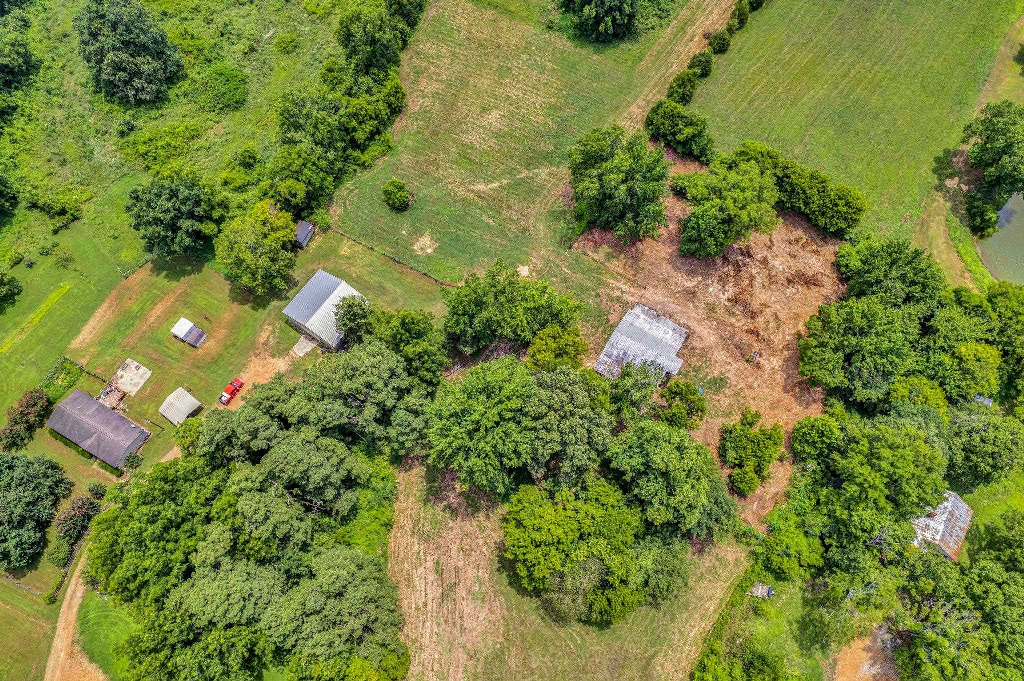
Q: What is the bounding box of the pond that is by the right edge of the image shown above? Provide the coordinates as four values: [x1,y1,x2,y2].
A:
[975,194,1024,292]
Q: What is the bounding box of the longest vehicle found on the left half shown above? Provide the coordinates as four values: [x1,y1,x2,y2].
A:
[218,376,246,407]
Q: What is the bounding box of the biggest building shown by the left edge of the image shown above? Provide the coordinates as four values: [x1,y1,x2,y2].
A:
[48,388,154,469]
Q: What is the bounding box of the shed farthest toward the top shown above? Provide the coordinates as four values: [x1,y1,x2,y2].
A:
[288,218,313,248]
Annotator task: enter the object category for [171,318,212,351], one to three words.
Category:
shed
